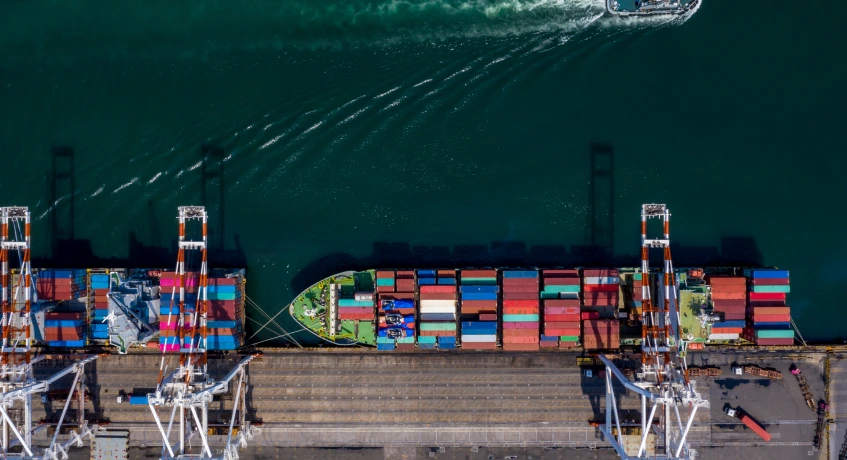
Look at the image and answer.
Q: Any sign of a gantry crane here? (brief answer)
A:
Yes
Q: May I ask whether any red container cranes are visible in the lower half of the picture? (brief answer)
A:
No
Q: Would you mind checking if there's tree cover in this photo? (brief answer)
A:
No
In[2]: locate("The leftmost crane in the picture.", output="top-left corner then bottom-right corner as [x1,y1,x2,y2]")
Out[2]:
[0,204,112,460]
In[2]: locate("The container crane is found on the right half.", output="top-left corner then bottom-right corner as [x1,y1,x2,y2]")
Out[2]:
[586,204,711,460]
